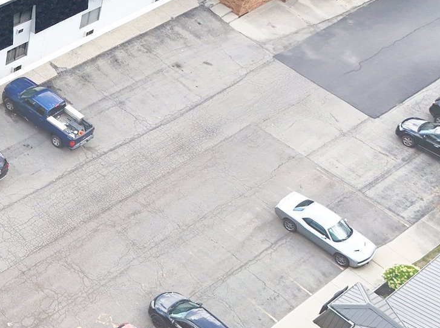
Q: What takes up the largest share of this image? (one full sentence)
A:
The scene is dominated by paved ground.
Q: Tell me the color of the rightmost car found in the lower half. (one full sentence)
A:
The rightmost car found in the lower half looks white in the image.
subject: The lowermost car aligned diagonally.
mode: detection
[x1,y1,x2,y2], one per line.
[276,189,381,274]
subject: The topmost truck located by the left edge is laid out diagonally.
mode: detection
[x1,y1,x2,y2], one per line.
[3,77,100,154]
